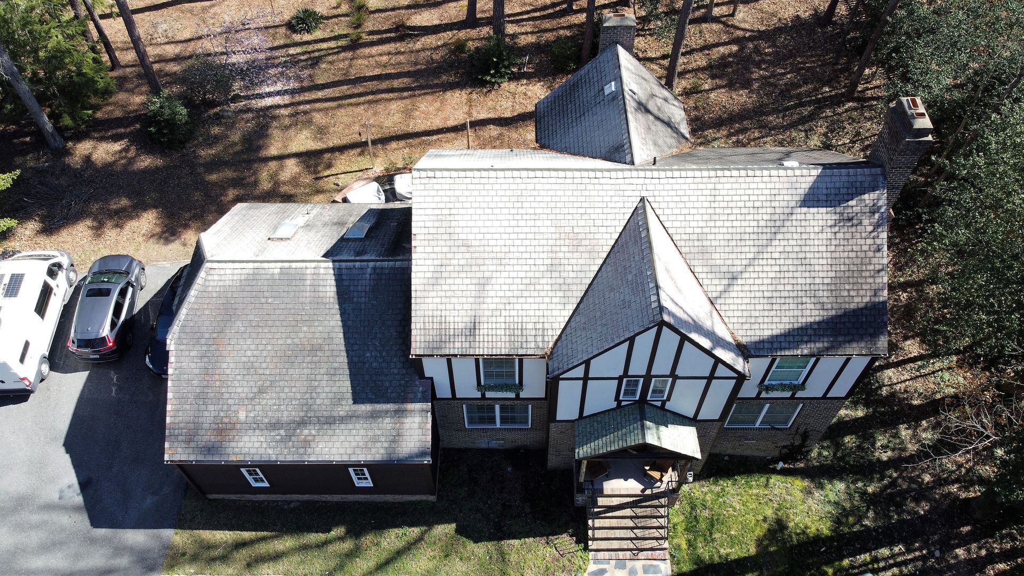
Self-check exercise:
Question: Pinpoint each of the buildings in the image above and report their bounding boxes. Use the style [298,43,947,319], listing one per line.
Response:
[158,12,935,508]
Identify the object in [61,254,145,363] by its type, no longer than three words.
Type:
car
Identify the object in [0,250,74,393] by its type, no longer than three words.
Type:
van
